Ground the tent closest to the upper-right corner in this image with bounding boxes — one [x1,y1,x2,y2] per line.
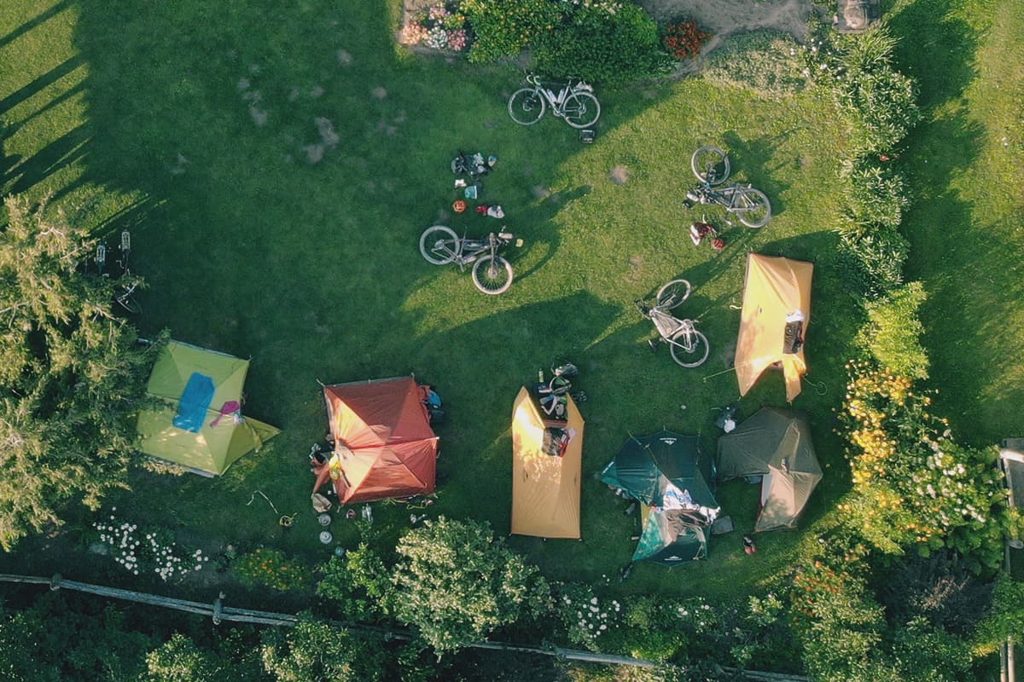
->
[705,250,827,405]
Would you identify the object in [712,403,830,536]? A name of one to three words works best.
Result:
tent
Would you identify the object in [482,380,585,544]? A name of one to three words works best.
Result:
tent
